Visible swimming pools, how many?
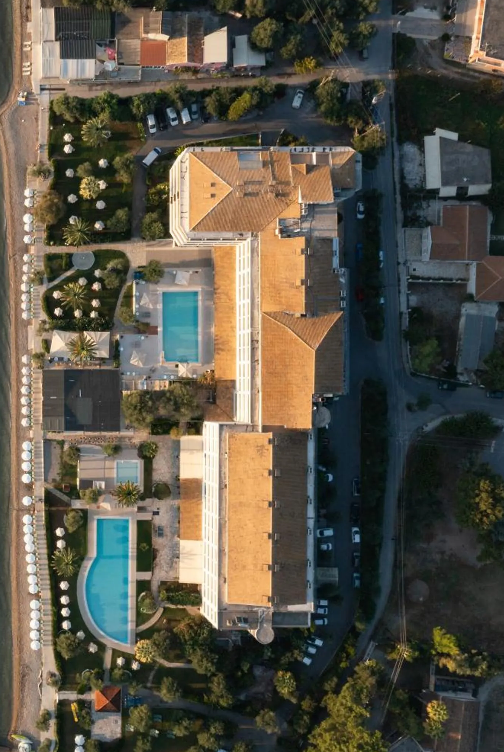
3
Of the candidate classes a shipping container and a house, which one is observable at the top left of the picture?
house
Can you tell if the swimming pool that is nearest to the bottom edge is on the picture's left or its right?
left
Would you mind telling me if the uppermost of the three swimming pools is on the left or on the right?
left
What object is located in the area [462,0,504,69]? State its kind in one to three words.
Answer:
building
